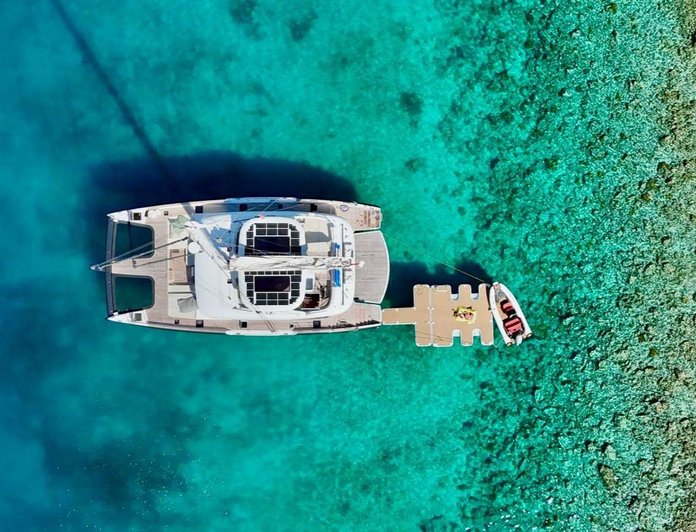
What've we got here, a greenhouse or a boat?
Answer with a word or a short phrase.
boat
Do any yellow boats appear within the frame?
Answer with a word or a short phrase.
No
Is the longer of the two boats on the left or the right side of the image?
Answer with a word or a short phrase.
left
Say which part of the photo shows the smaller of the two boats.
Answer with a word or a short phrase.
right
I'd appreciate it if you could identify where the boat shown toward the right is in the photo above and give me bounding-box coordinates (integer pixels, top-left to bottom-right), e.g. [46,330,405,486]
[490,282,534,349]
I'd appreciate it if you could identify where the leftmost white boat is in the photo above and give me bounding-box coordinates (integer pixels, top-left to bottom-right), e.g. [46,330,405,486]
[92,196,389,335]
